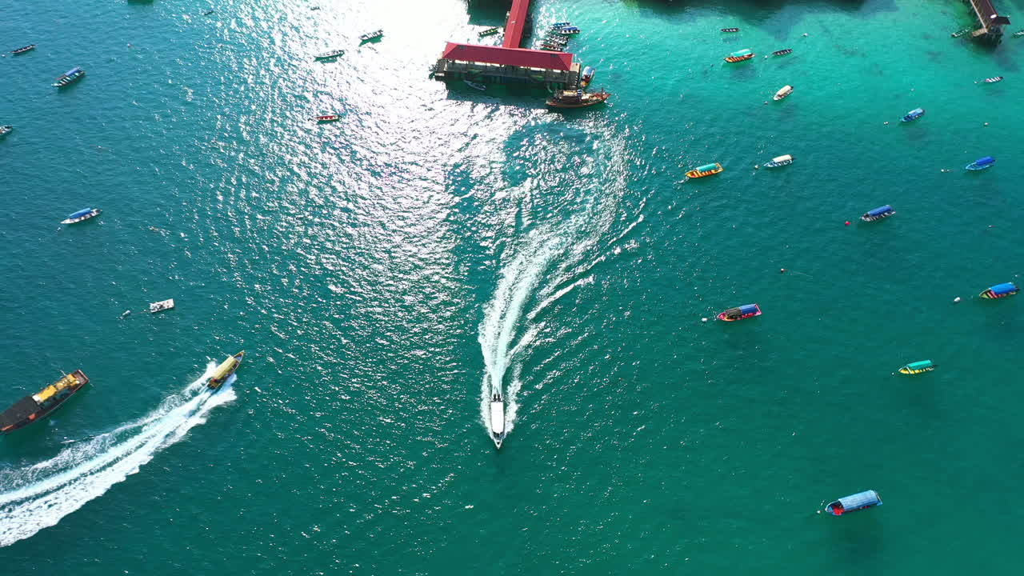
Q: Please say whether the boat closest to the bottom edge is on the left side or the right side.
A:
right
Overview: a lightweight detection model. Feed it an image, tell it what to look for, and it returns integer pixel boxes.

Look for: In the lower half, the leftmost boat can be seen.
[0,370,95,440]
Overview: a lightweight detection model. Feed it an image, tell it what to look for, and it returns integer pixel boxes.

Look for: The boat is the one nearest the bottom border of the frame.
[825,492,884,515]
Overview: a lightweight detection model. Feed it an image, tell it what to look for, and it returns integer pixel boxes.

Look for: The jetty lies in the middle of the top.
[432,0,582,92]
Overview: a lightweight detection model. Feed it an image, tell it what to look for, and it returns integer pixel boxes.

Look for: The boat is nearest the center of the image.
[489,392,507,451]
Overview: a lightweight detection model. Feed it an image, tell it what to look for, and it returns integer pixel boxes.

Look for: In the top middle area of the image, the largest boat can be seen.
[546,82,613,106]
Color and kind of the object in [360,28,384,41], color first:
white boat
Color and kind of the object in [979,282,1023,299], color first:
blue boat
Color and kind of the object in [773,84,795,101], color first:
white boat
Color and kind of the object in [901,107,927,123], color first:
blue boat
